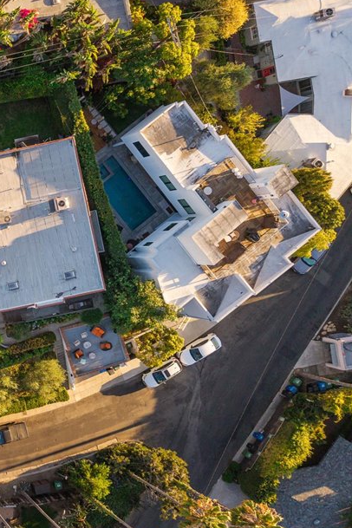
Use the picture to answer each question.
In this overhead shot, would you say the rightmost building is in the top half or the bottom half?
bottom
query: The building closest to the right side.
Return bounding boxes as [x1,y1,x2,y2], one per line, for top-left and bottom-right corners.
[310,332,352,373]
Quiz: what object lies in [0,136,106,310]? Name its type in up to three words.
house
